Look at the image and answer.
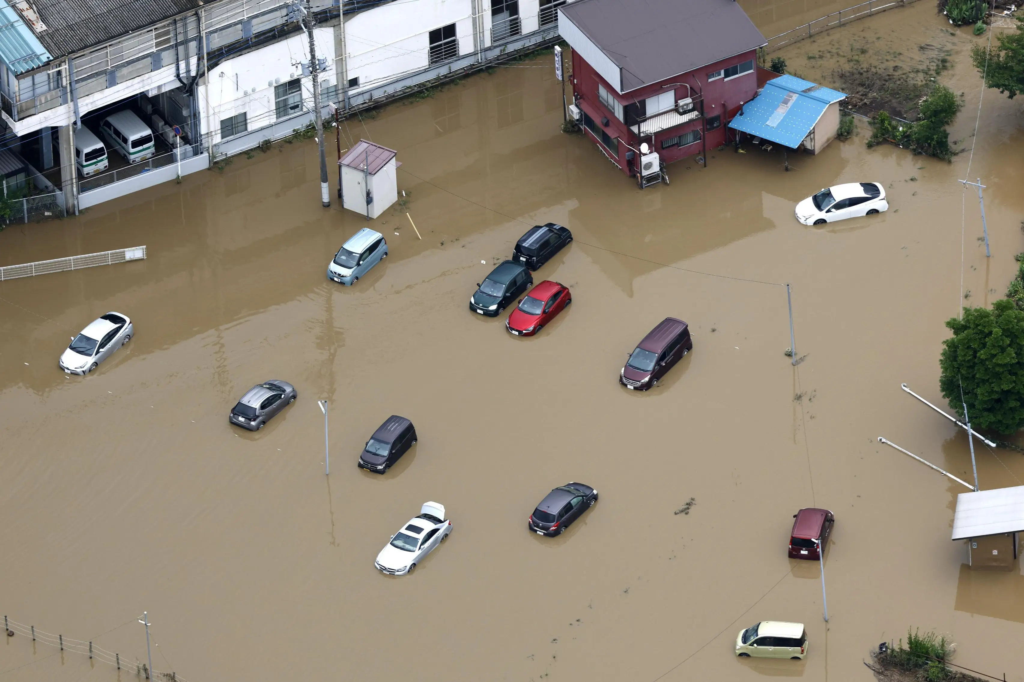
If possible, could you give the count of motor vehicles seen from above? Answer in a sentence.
My tally gives 15 motor vehicles in this view.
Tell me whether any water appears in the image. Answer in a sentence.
Yes, water shows up in the scene.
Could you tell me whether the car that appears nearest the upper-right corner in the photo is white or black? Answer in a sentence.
The color of the car that appears nearest the upper-right corner is white.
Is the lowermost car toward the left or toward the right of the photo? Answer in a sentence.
The lowermost car is on the right side of the image.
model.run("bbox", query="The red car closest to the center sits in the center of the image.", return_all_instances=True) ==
[504,277,573,336]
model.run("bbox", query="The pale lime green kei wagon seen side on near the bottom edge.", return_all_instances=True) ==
[732,623,808,661]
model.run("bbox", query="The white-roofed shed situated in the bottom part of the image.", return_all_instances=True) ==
[951,482,1024,573]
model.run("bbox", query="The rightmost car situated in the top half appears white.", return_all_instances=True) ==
[793,181,889,225]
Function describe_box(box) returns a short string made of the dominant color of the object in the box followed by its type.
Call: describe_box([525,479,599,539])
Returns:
gray car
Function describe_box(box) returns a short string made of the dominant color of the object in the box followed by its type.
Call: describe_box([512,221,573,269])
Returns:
black car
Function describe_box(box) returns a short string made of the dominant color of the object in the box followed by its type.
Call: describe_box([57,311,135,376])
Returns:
white car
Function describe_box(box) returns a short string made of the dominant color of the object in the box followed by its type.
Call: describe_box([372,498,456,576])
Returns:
white car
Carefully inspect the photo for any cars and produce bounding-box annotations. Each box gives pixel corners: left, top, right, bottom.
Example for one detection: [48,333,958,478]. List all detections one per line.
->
[793,181,889,225]
[357,413,418,474]
[326,227,387,286]
[469,259,533,317]
[512,221,573,269]
[372,498,456,576]
[619,315,695,391]
[789,510,831,562]
[525,479,599,539]
[732,623,808,661]
[504,277,573,336]
[227,376,298,432]
[57,311,135,376]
